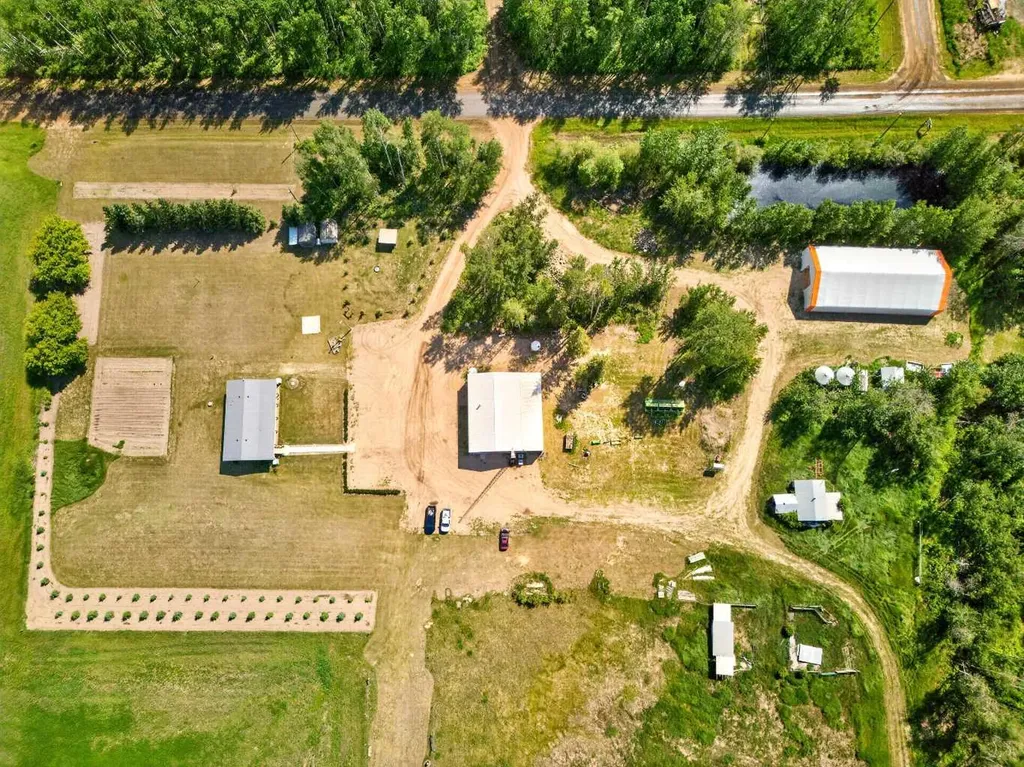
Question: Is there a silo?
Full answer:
Yes, the image includes a silo.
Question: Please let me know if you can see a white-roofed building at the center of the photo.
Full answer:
Yes, I can see a white-roofed building at the center of the photo.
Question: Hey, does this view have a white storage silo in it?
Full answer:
Yes, I can see a white storage silo in this picture.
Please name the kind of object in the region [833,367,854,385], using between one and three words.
silo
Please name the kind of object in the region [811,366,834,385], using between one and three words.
silo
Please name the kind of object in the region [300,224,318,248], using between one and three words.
shed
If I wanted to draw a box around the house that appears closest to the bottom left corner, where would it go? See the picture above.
[223,380,280,463]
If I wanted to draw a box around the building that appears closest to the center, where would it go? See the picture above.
[468,374,543,452]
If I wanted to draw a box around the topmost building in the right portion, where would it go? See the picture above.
[800,245,951,316]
